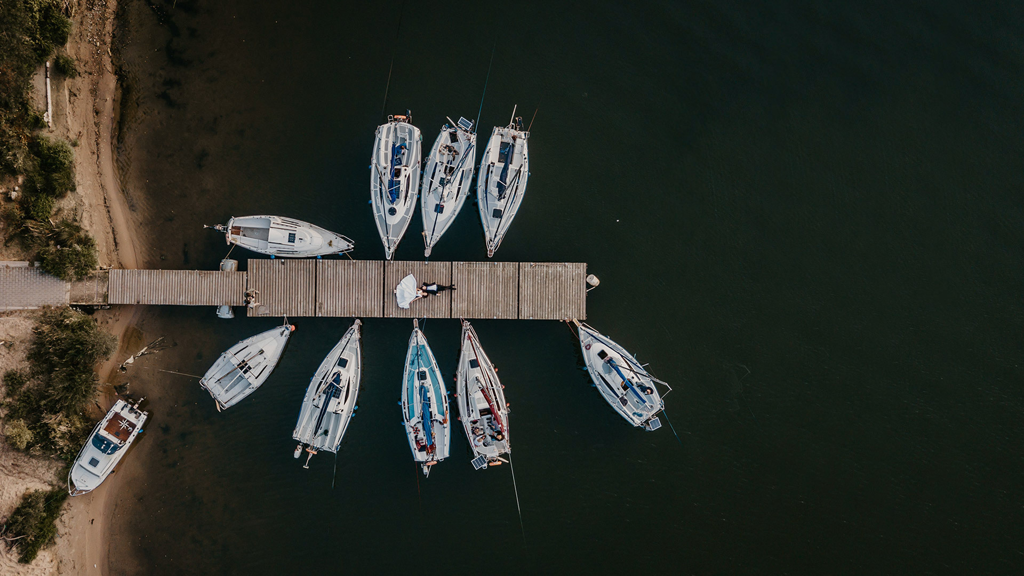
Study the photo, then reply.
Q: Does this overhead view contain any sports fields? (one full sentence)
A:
No, no sports field is visible in the view.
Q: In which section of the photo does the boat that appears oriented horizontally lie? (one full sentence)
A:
The boat that appears oriented horizontally sits in the left section of the image.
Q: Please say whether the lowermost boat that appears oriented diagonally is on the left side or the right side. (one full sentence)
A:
You can find the lowermost boat that appears oriented diagonally on the left side of the picture.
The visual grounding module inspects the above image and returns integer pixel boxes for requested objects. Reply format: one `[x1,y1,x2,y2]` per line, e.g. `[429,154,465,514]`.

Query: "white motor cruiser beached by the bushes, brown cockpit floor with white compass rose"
[68,396,152,496]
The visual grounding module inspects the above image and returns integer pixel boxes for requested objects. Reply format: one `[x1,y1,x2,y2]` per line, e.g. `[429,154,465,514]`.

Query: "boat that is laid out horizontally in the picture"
[204,215,354,259]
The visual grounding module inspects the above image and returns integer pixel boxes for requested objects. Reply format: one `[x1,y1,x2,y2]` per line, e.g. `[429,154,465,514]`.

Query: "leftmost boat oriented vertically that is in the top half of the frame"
[368,109,423,259]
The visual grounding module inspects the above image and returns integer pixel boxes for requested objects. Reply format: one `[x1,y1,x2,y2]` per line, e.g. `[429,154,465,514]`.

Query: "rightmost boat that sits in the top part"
[474,105,532,257]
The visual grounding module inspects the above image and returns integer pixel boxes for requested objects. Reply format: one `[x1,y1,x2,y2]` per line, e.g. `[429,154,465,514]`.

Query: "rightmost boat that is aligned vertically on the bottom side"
[453,321,512,470]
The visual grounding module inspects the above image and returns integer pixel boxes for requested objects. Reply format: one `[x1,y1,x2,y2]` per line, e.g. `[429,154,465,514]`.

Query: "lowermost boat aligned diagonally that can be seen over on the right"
[573,318,672,431]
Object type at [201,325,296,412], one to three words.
boat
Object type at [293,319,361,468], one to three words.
boat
